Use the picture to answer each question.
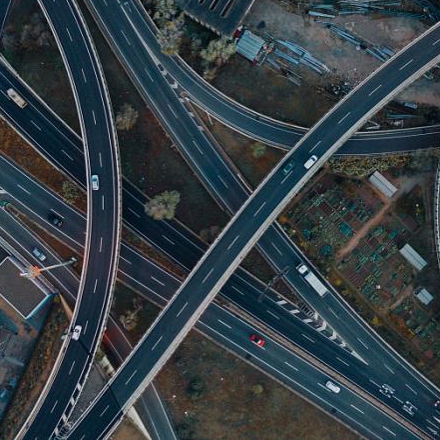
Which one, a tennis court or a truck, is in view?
truck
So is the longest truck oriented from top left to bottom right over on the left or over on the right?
right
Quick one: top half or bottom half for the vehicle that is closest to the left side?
top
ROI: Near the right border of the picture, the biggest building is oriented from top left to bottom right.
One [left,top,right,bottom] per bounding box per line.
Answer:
[399,244,428,271]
